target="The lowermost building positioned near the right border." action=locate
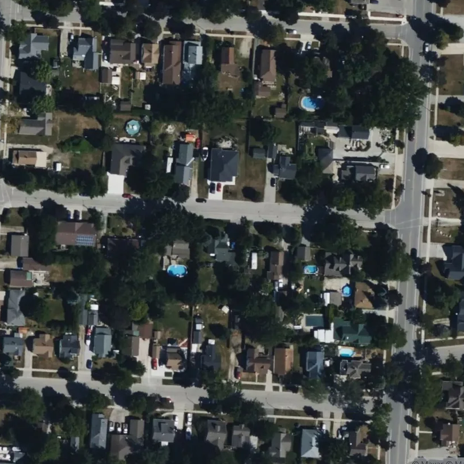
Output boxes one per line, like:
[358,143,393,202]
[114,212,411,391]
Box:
[440,423,460,445]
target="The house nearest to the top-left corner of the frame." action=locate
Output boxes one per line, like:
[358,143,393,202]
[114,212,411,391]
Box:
[19,34,48,59]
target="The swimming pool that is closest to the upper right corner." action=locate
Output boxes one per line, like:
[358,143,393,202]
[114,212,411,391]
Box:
[297,95,325,111]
